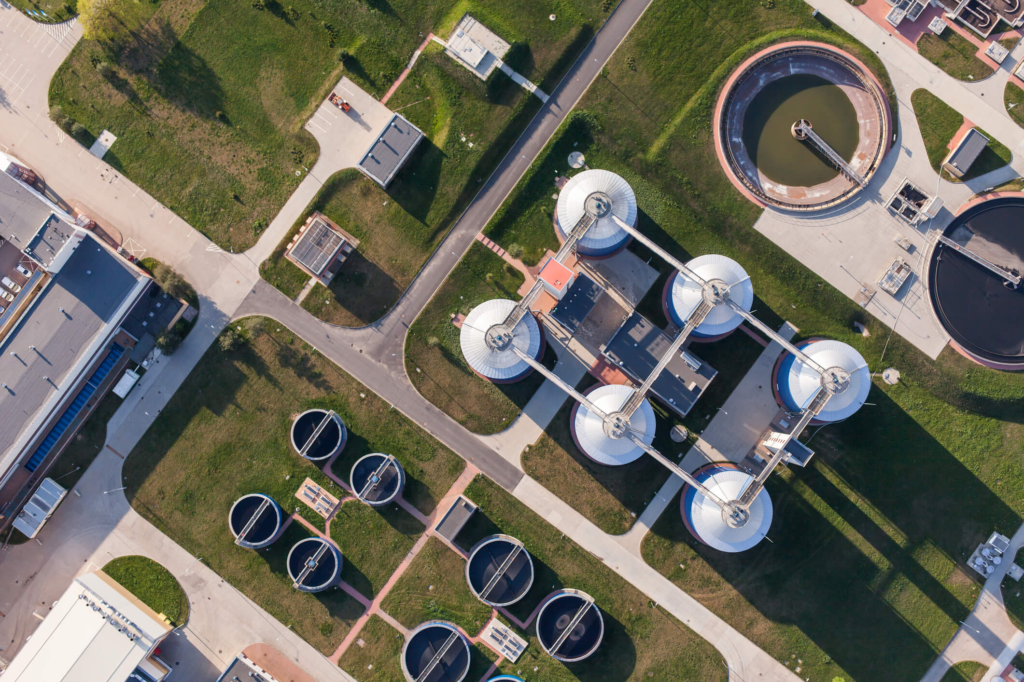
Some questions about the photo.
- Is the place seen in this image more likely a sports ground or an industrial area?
industrial area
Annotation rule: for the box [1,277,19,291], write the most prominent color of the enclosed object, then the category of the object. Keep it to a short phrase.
white car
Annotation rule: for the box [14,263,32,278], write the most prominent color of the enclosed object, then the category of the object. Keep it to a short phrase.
white car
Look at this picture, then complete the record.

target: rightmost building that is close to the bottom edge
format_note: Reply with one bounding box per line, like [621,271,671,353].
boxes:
[217,651,282,682]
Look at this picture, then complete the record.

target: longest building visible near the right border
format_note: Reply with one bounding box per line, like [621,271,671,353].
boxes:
[941,127,989,178]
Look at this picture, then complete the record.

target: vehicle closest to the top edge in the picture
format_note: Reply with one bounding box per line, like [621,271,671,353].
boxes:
[324,89,352,111]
